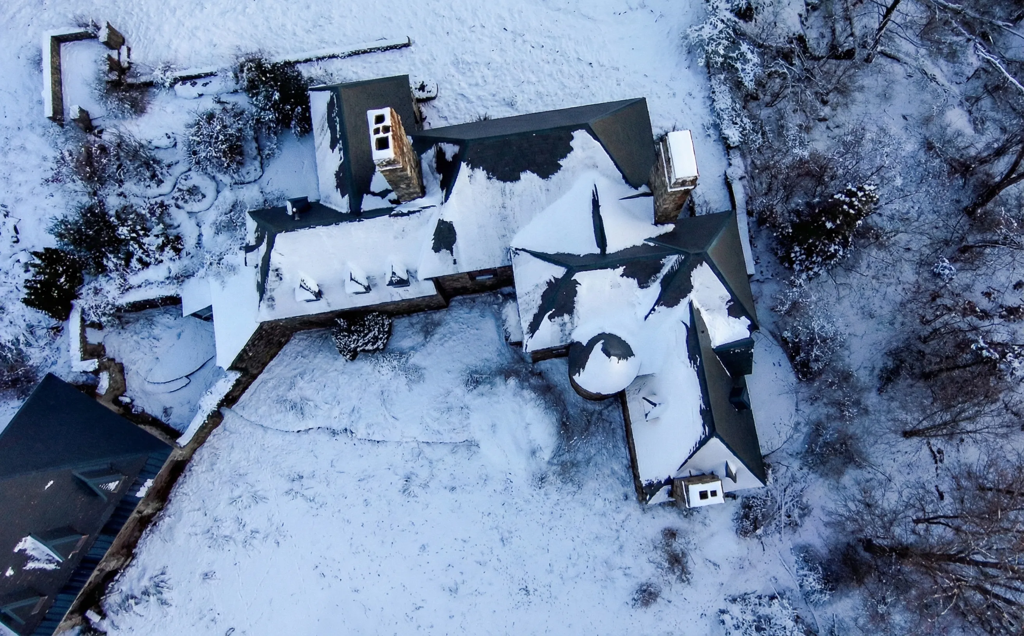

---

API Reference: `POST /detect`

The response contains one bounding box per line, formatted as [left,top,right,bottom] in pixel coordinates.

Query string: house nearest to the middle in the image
[181,72,767,509]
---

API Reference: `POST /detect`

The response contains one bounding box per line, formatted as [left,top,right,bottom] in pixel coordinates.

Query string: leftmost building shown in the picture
[0,373,198,636]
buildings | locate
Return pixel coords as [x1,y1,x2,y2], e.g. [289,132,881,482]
[0,373,198,636]
[181,72,767,509]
